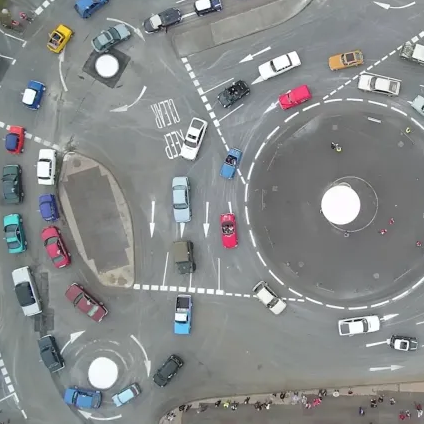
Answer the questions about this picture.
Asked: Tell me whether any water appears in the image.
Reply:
No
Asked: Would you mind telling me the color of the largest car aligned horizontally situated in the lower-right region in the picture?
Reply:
white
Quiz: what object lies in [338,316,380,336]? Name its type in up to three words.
car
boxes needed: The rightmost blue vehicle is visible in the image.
[221,147,243,180]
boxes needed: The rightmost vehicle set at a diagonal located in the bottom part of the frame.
[253,281,287,315]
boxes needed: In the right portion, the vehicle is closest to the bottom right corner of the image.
[390,335,418,353]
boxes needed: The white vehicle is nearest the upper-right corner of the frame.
[399,42,424,66]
